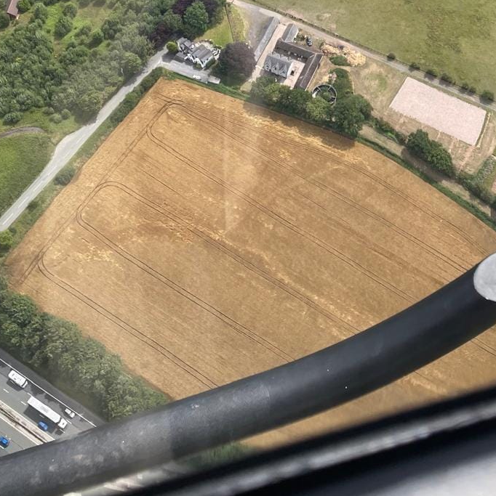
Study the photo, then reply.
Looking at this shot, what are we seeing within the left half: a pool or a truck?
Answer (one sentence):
The one visible within the left half is a truck.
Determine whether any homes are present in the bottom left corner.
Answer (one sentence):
No, no home can be made out in the bottom left corner.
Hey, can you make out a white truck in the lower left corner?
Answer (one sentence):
Yes, looking in the lower left corner, one can make out a white truck.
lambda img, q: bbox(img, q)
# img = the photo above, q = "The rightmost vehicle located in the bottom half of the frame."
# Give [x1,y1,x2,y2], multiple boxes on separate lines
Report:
[62,406,77,420]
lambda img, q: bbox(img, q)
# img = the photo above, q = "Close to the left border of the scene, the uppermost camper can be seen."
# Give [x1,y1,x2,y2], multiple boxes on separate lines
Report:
[8,369,28,388]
